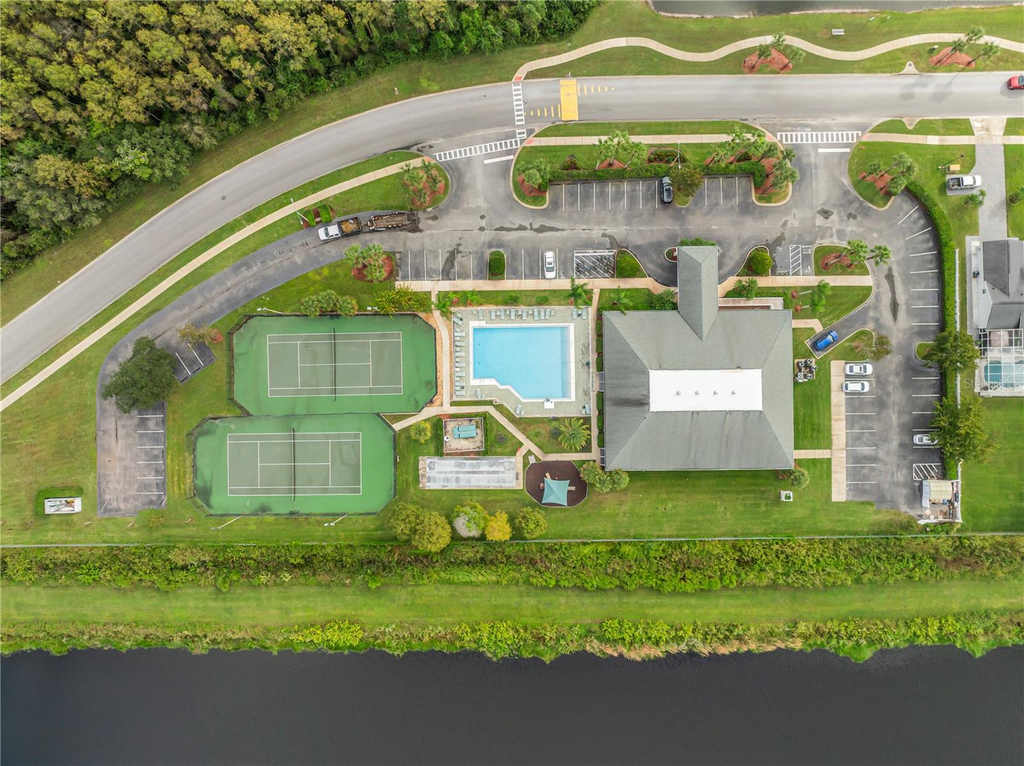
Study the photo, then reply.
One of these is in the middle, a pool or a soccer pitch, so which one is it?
pool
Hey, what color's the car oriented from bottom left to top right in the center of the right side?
blue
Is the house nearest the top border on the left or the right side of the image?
right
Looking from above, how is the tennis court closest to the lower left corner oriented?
from side to side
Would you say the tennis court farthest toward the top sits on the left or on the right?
left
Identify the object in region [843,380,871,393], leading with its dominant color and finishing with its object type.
white vehicle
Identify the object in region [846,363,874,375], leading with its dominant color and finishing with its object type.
white vehicle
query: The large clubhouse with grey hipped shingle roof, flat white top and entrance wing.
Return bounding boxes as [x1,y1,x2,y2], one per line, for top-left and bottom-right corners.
[600,246,794,472]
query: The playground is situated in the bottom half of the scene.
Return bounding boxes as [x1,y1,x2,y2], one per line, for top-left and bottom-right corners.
[525,460,588,508]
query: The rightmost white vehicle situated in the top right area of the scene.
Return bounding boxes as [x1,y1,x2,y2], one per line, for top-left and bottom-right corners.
[949,173,984,188]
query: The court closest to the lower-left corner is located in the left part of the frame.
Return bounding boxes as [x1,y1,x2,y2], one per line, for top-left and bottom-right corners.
[194,415,394,516]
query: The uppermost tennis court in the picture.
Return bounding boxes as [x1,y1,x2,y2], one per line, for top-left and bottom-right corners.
[233,314,437,416]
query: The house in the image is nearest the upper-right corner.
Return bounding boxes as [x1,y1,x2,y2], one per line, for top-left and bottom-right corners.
[974,238,1024,329]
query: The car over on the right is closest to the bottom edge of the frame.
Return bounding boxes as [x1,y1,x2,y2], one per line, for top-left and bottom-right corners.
[913,433,941,446]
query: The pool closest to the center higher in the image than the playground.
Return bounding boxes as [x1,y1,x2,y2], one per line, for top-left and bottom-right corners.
[452,306,591,417]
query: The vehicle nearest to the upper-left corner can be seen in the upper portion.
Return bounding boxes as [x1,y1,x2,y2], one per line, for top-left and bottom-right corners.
[316,215,362,236]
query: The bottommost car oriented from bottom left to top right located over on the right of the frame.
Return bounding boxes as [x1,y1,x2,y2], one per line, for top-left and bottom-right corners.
[814,329,840,351]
